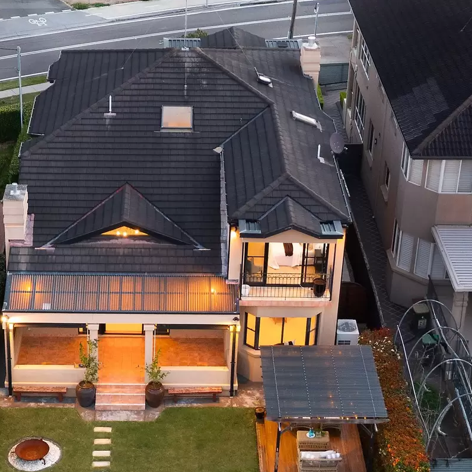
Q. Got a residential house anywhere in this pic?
Yes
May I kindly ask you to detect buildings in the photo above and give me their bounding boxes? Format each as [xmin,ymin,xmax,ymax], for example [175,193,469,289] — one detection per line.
[1,23,353,409]
[333,0,472,334]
